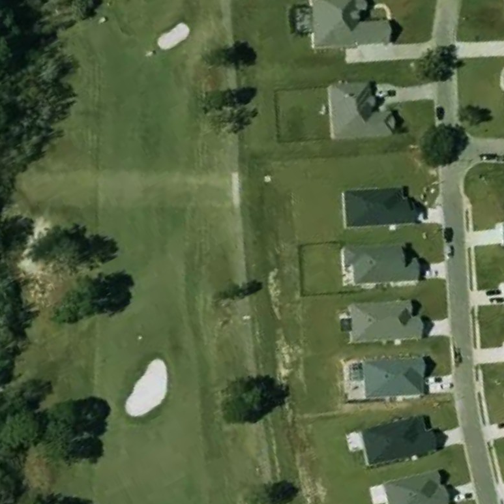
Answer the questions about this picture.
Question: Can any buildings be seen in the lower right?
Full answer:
Yes, there is a building in the lower right.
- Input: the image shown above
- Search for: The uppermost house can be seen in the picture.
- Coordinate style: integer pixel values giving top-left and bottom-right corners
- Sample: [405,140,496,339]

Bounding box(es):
[312,0,394,50]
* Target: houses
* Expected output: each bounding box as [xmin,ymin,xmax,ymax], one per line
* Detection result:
[369,470,457,504]
[312,0,394,50]
[328,81,396,143]
[341,246,423,290]
[343,360,428,404]
[338,301,427,347]
[343,189,424,234]
[344,416,443,466]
